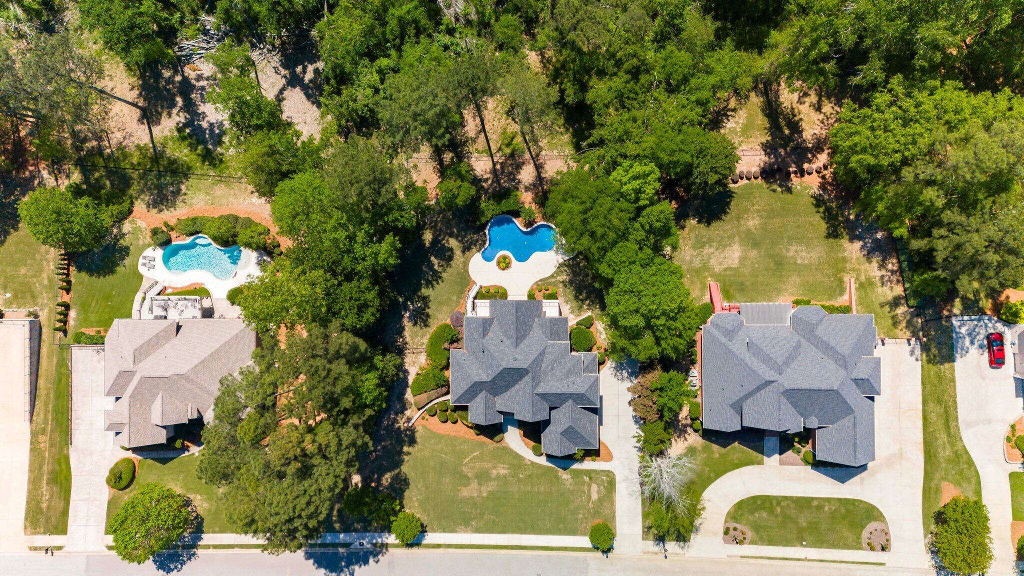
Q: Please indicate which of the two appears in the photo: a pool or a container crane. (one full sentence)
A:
The image shows a pool.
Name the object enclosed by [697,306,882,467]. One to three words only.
house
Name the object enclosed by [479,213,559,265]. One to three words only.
swimming pool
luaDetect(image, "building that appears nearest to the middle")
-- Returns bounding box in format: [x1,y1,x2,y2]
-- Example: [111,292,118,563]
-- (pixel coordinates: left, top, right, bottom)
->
[450,300,599,457]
